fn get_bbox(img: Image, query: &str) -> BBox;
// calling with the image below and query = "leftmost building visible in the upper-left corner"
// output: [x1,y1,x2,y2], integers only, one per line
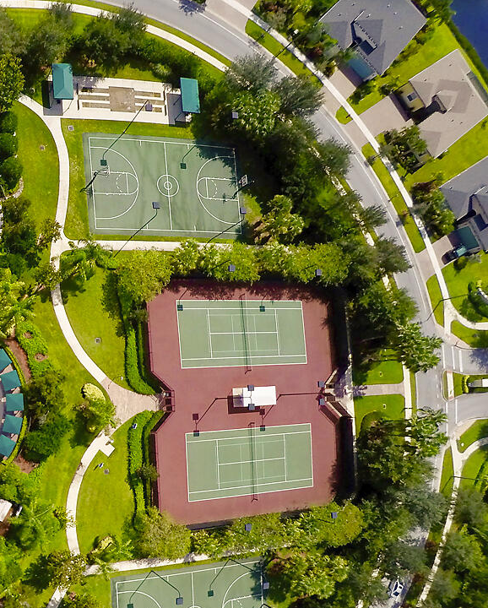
[50,63,73,106]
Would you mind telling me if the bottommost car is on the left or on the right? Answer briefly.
right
